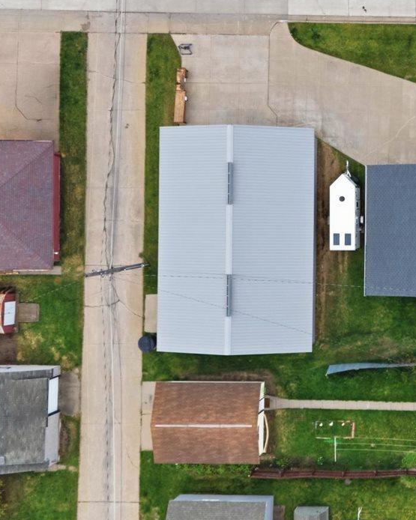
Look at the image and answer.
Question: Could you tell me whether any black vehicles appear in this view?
No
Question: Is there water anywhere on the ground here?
No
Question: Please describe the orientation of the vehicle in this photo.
vertically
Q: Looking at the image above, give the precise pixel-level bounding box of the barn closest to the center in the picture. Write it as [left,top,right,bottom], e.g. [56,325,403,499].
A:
[156,124,322,356]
